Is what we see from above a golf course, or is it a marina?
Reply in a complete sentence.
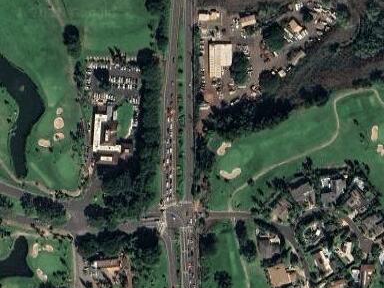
This looks like a golf course.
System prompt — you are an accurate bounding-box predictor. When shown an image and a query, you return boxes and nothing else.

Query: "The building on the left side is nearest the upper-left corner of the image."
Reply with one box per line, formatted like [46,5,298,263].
[93,105,118,151]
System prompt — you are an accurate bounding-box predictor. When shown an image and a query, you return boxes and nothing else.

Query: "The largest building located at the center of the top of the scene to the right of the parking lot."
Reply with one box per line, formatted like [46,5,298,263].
[208,43,233,78]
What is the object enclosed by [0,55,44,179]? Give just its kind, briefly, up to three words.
pond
